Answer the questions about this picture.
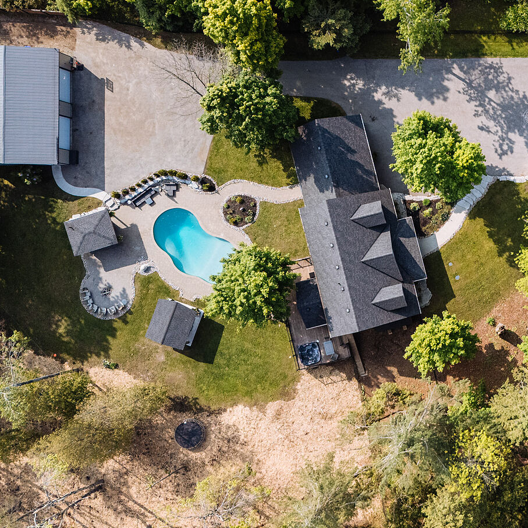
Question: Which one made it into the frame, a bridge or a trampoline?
trampoline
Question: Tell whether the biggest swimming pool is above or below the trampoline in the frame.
above it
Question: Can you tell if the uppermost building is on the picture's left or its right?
left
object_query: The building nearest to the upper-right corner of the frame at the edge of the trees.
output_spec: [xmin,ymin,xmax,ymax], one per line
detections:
[284,115,428,338]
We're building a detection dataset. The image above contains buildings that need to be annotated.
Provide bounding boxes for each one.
[63,208,126,257]
[284,115,428,338]
[0,44,73,166]
[146,298,205,350]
